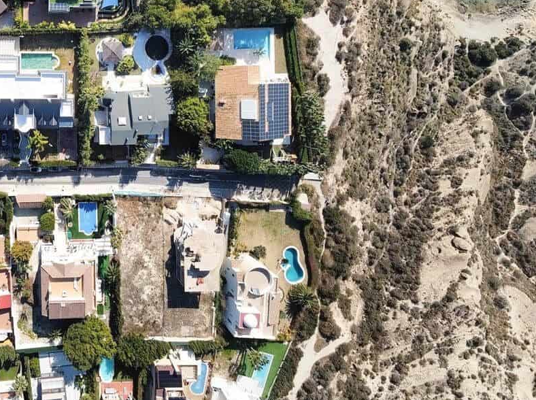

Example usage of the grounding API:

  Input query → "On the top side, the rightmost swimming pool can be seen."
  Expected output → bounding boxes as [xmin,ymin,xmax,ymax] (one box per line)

[233,29,271,61]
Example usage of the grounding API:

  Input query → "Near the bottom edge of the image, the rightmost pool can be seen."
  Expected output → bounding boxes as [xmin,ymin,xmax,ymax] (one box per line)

[251,351,274,389]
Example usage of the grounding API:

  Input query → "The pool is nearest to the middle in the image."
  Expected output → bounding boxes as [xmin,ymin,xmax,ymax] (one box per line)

[283,245,306,284]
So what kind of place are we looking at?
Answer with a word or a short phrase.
residential area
